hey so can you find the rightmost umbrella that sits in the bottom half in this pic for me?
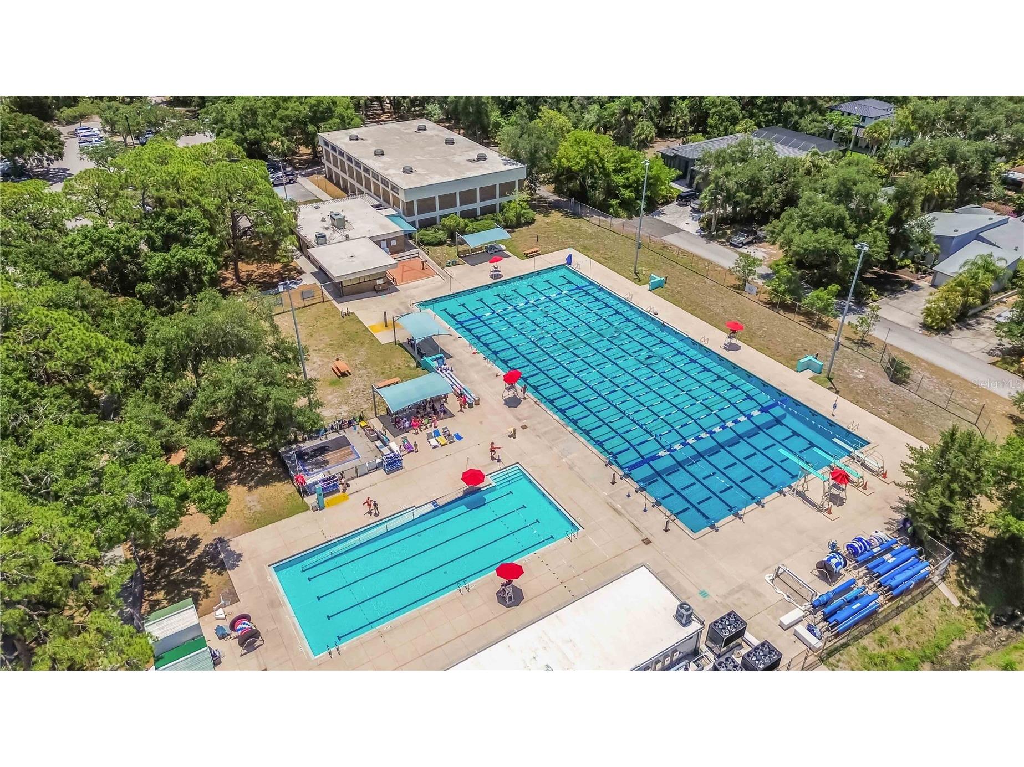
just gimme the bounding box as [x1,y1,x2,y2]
[454,464,483,488]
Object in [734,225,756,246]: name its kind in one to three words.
car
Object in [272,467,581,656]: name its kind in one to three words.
swimming pool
